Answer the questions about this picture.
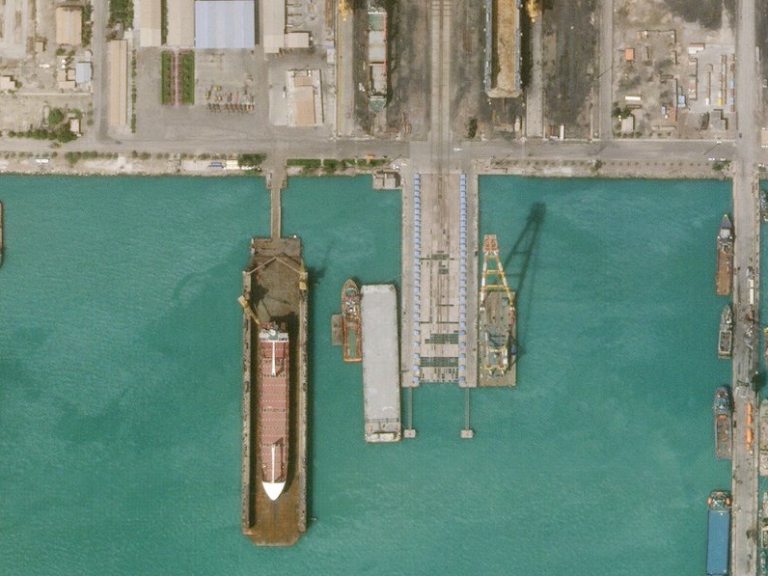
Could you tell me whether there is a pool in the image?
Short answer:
No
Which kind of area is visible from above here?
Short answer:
port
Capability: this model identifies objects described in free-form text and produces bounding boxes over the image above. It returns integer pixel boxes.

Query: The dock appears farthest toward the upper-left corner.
[265,160,287,238]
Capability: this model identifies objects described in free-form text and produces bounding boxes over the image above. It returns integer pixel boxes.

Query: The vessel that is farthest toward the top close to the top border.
[369,0,387,112]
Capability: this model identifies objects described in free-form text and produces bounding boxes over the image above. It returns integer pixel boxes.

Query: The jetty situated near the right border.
[731,166,759,576]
